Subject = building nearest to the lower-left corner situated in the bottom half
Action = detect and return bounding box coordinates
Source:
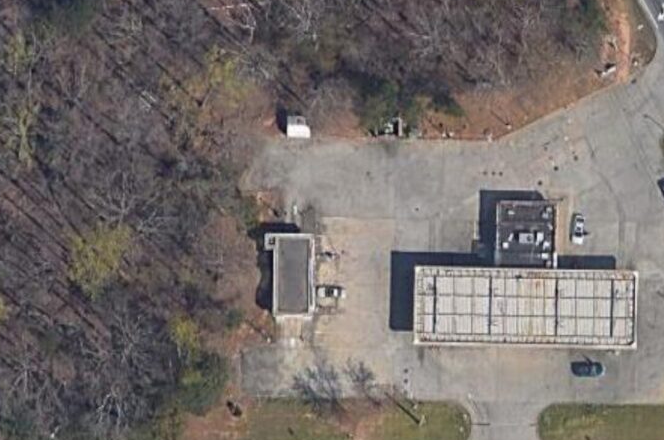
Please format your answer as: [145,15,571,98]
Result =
[264,234,316,324]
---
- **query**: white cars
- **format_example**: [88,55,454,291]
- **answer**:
[317,286,346,299]
[572,214,589,243]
